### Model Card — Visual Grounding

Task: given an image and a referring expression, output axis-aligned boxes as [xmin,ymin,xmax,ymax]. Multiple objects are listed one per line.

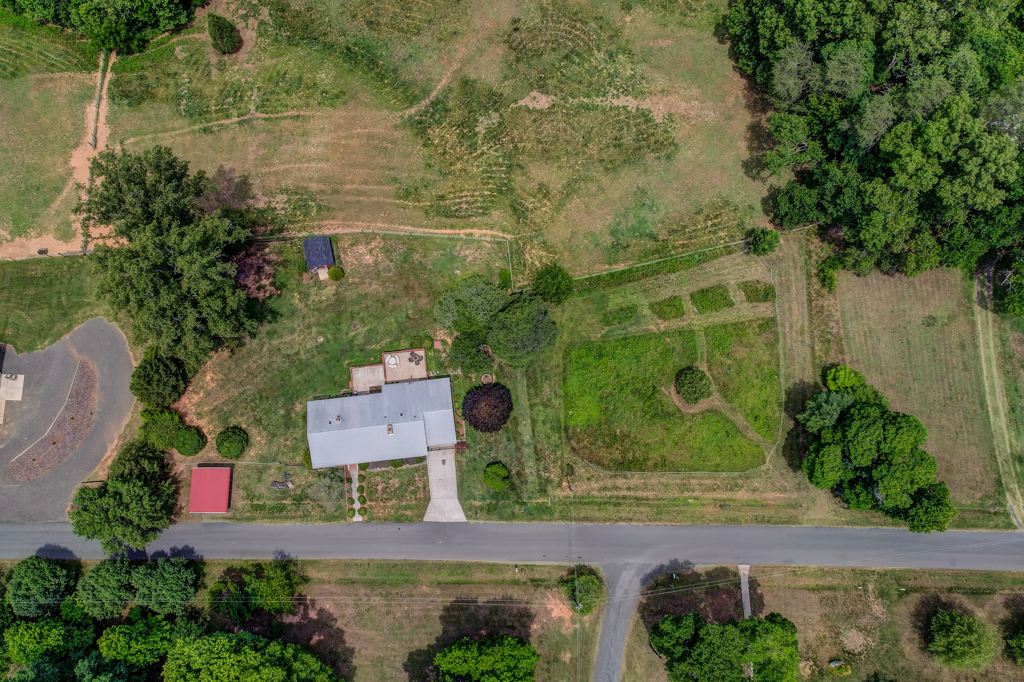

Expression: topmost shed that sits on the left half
[302,235,337,279]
